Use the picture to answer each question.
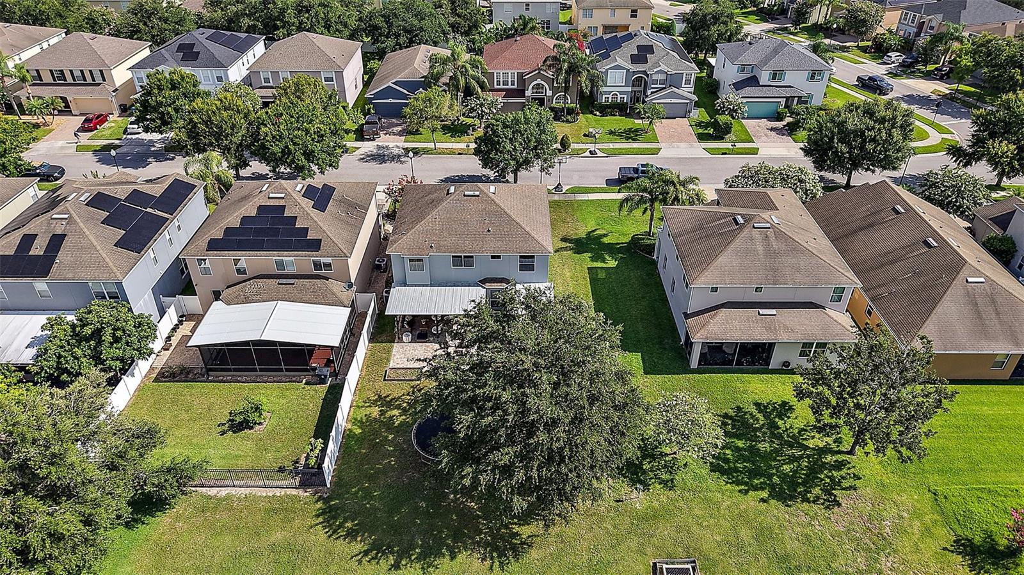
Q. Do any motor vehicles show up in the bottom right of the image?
No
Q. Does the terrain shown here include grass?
Yes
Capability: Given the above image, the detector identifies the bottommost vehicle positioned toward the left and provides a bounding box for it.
[13,163,63,182]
